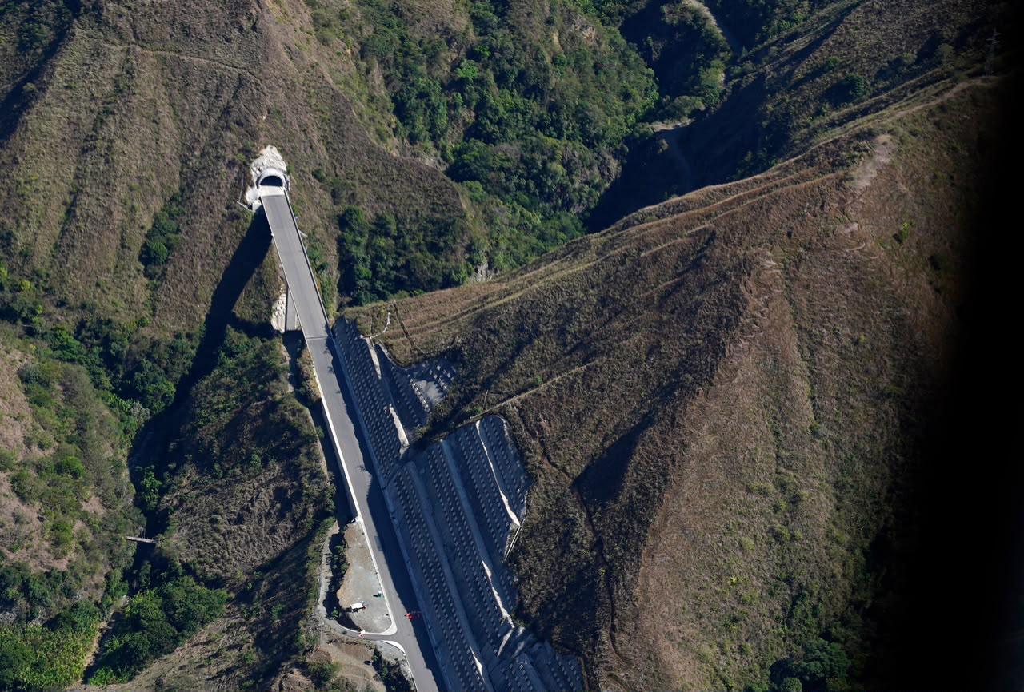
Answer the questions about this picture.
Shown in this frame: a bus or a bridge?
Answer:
bridge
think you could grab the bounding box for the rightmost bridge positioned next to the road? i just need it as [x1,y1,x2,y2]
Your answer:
[260,194,335,363]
